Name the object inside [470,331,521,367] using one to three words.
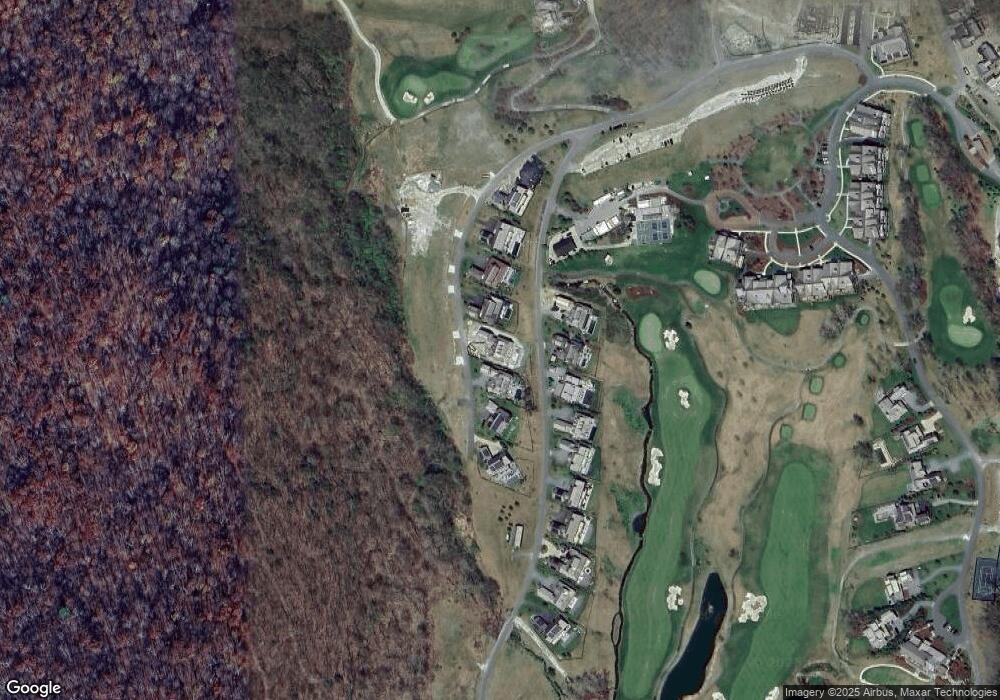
house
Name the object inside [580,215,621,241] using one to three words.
building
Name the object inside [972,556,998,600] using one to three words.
tennis court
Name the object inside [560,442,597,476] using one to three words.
house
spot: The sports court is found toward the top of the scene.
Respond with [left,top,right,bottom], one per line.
[634,219,674,244]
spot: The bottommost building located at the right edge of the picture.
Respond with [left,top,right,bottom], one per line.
[900,635,951,680]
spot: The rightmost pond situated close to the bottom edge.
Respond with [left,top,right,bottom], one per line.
[659,571,728,700]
